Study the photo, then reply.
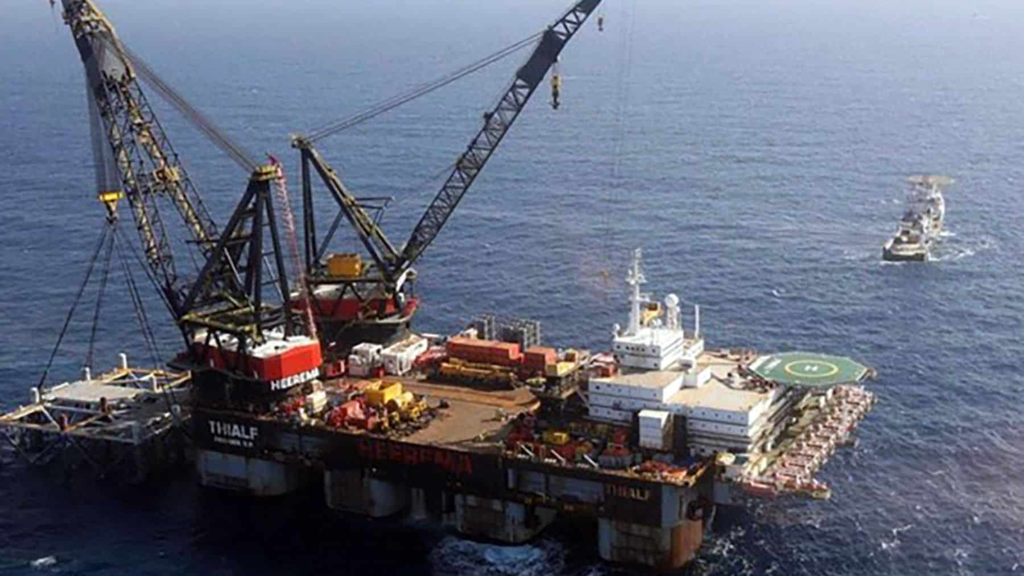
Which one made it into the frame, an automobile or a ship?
ship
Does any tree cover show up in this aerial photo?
No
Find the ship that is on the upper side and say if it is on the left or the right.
right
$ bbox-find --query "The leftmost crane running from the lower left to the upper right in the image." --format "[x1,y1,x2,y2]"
[282,0,634,328]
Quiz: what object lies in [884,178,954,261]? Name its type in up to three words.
ship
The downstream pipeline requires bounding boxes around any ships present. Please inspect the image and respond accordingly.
[192,243,885,567]
[884,178,954,261]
